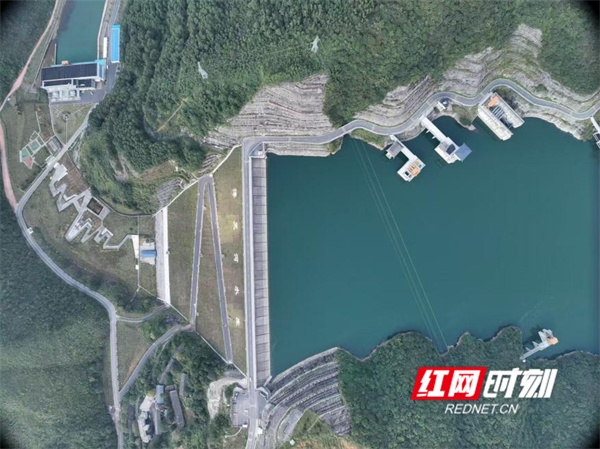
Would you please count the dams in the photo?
one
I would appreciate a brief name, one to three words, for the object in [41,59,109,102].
building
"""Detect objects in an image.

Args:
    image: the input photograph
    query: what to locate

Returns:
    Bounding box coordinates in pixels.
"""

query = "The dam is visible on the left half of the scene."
[155,136,271,385]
